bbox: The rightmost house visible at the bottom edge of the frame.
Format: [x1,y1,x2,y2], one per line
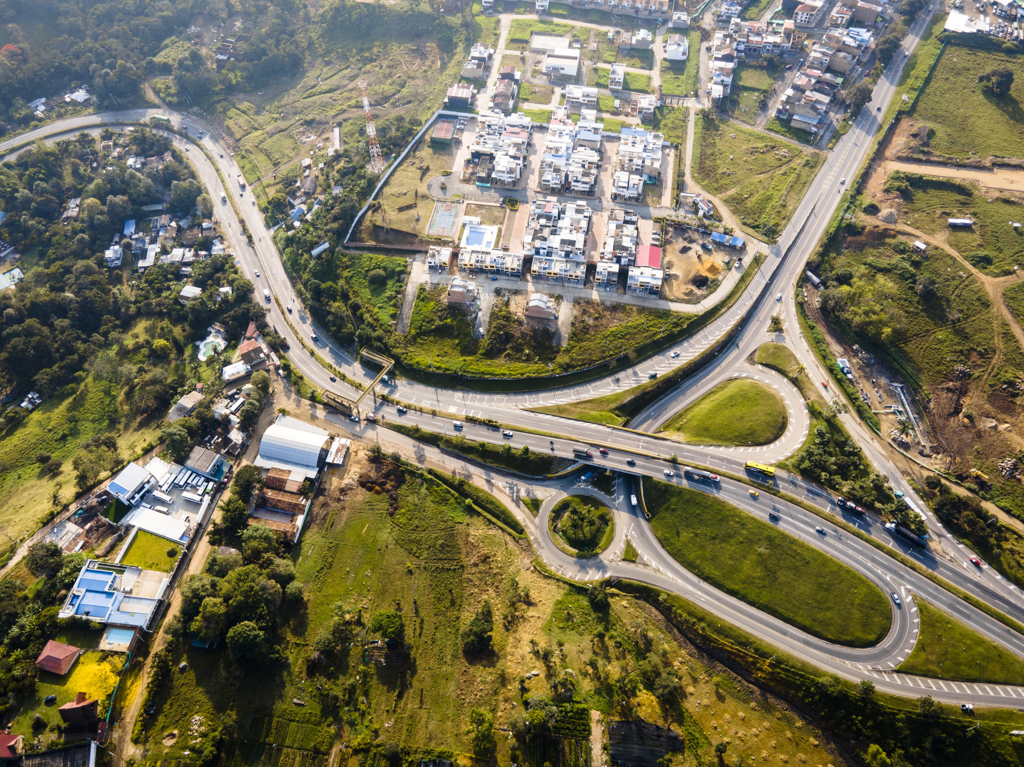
[609,719,684,767]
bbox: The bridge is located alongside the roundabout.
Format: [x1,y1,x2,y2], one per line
[547,417,670,520]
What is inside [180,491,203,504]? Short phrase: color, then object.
white vehicle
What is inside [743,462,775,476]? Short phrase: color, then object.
yellow vehicle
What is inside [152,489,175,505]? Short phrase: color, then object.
white vehicle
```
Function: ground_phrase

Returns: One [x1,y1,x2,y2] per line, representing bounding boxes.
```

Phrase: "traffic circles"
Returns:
[536,486,627,570]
